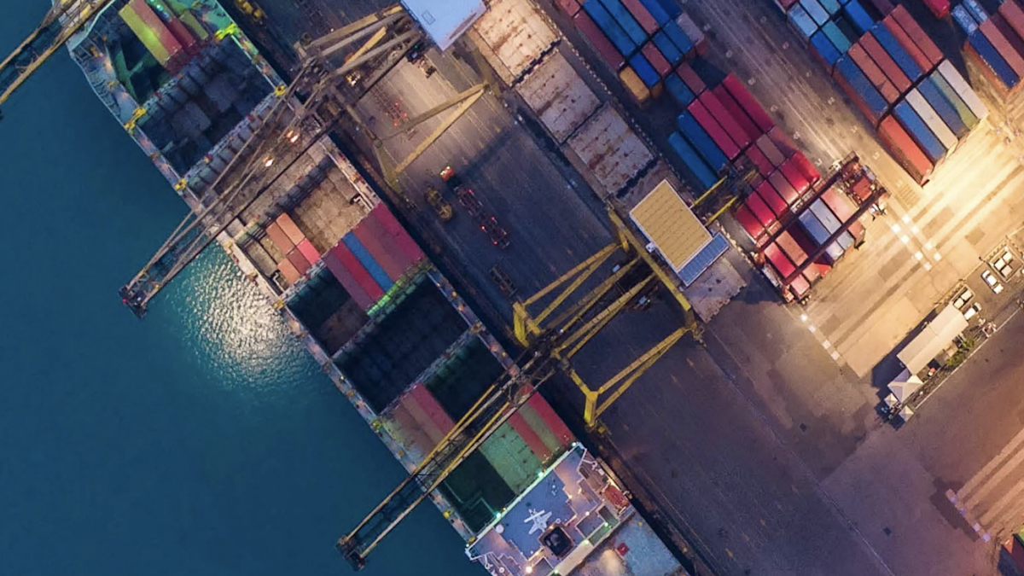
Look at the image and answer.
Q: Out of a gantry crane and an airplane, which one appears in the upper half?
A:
gantry crane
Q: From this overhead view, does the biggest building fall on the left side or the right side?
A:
right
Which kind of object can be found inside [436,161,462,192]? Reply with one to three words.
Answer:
truck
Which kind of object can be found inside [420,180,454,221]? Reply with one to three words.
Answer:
work vehicle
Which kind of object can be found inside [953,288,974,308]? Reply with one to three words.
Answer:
car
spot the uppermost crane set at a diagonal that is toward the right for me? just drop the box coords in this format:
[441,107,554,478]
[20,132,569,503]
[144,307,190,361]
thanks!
[751,147,898,306]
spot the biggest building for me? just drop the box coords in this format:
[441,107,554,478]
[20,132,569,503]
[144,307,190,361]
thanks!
[896,302,971,377]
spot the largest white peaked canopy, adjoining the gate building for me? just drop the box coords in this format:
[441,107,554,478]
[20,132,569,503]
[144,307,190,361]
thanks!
[884,367,922,406]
